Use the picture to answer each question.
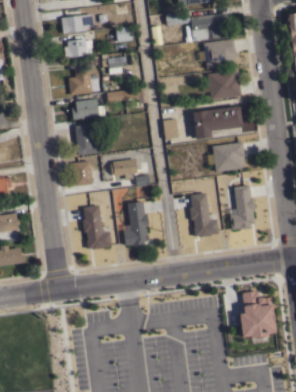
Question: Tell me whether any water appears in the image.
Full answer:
No, water can't be seen anywhere here.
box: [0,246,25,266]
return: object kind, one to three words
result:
house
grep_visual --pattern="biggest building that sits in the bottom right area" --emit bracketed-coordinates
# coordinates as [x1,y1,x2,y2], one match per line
[242,290,279,344]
